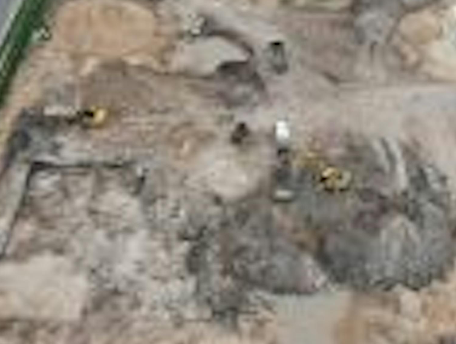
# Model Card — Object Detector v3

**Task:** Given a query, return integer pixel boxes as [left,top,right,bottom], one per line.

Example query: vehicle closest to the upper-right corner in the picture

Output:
[270,35,288,71]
